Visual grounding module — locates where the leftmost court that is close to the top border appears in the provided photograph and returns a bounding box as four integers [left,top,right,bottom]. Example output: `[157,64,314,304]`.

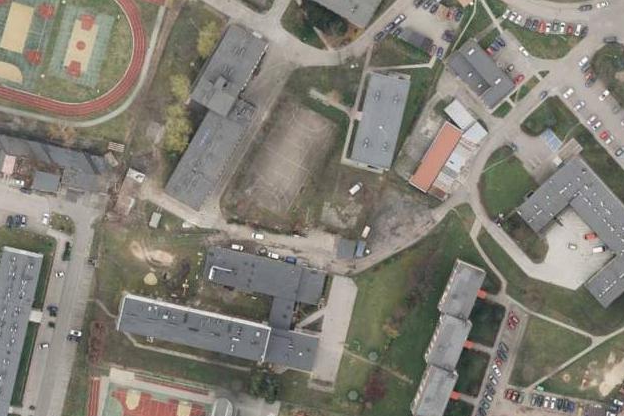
[0,0,60,90]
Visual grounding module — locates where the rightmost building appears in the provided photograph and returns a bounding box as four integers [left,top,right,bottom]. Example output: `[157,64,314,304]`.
[516,136,624,310]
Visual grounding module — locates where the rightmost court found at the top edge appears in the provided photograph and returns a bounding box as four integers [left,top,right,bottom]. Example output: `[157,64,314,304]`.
[48,4,115,89]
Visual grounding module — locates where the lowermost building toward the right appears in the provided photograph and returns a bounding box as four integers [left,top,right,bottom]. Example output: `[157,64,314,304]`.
[410,366,461,416]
